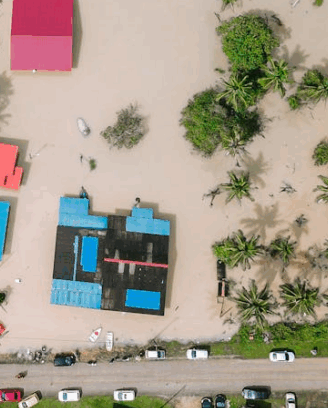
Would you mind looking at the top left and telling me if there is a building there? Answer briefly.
Yes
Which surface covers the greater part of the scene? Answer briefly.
water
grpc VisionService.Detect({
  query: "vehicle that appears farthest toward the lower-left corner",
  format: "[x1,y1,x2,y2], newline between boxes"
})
[0,388,22,402]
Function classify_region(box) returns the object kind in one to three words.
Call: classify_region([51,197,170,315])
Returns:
house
